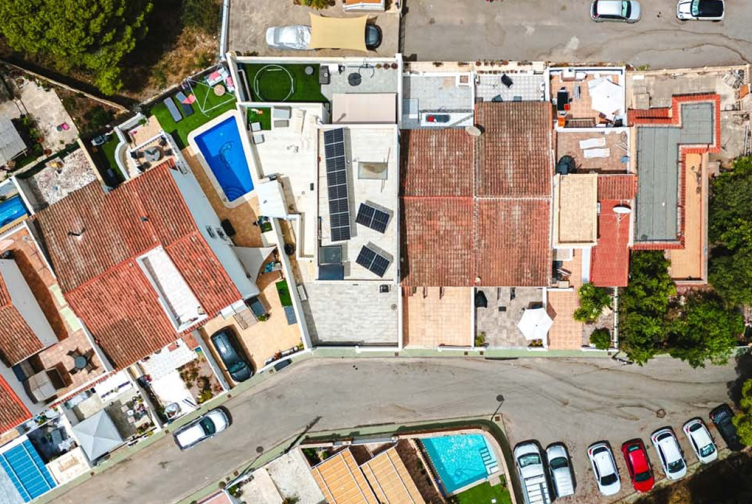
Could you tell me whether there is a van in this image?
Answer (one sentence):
Yes, I can see a van in this picture.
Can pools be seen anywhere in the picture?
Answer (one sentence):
Yes, looking at the shot, I can spot a pool.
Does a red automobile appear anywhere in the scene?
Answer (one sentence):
Yes, there is a red automobile in the image.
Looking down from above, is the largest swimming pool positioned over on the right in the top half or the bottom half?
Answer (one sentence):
You can find the largest swimming pool positioned over on the right in the bottom half.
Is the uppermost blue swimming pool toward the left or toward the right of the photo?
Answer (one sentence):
You can find the uppermost blue swimming pool on the left side of the picture.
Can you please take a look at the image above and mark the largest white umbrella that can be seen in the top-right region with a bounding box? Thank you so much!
[585,76,629,119]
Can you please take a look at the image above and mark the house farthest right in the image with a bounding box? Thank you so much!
[628,94,722,284]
